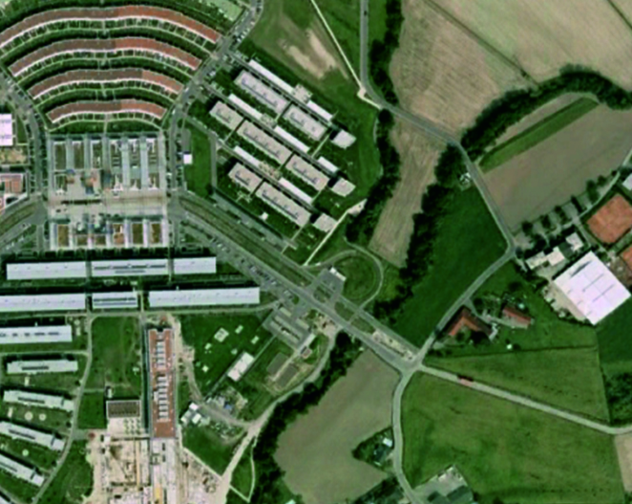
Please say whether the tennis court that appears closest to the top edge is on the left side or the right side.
right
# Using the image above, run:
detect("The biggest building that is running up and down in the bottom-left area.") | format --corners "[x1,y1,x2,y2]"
[149,328,176,438]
